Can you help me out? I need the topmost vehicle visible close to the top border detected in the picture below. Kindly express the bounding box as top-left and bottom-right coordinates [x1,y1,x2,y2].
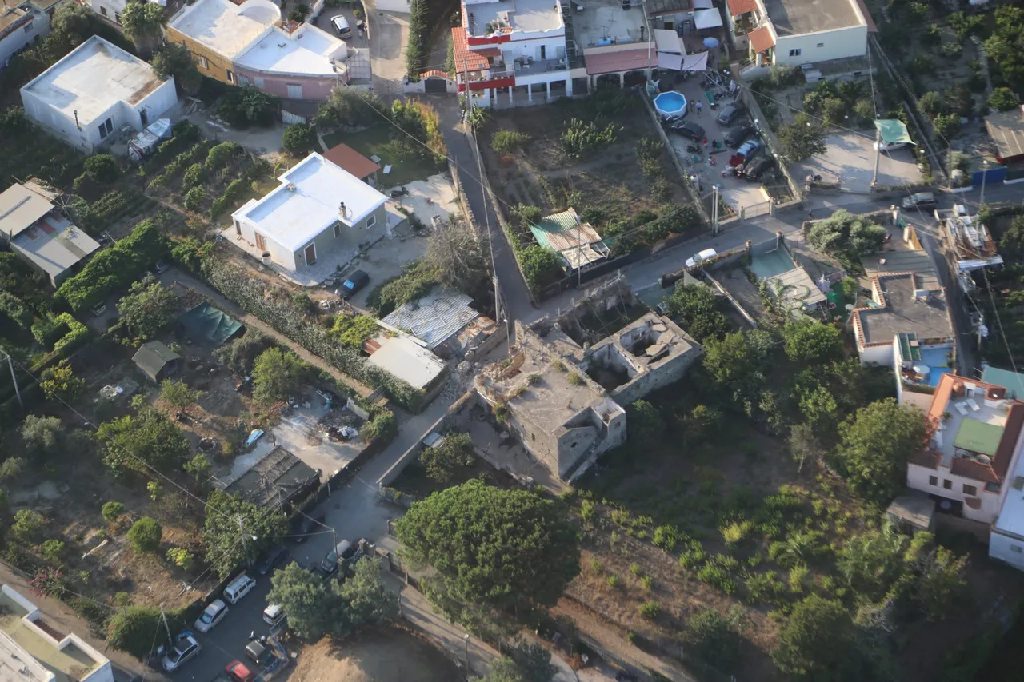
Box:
[330,14,350,37]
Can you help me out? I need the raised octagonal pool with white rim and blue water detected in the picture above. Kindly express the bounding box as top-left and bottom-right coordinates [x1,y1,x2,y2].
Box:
[653,92,689,124]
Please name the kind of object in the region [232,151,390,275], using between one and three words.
house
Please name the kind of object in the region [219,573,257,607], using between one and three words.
van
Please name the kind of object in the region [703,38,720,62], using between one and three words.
umbrella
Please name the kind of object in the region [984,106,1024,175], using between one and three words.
shed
